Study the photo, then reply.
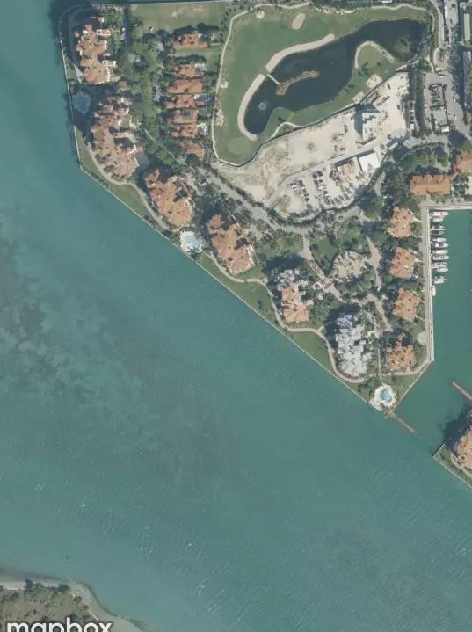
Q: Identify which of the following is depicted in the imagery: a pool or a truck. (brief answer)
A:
pool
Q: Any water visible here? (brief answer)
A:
Yes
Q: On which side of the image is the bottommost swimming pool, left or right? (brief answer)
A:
right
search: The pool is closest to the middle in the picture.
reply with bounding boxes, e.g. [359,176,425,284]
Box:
[179,229,202,253]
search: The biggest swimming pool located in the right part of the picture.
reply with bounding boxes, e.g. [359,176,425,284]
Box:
[371,385,396,413]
